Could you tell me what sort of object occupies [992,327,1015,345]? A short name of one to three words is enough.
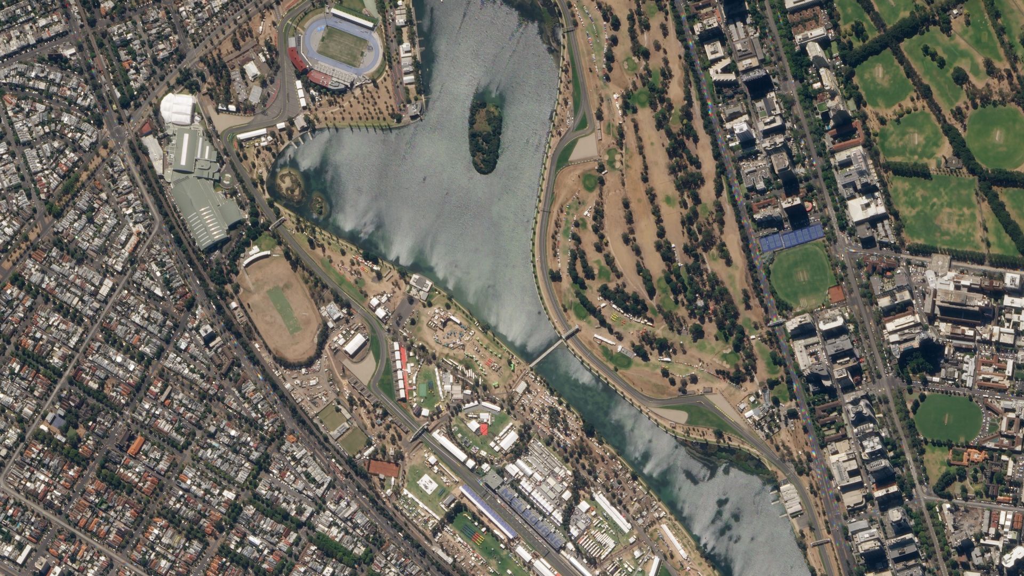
building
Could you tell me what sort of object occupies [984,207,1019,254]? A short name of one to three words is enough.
sports field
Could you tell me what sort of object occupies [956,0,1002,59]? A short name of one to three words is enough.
sports field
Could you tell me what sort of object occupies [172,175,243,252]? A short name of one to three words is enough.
building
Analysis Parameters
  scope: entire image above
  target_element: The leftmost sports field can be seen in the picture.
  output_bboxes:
[238,255,322,362]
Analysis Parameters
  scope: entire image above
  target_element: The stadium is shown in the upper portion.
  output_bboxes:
[288,0,387,91]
